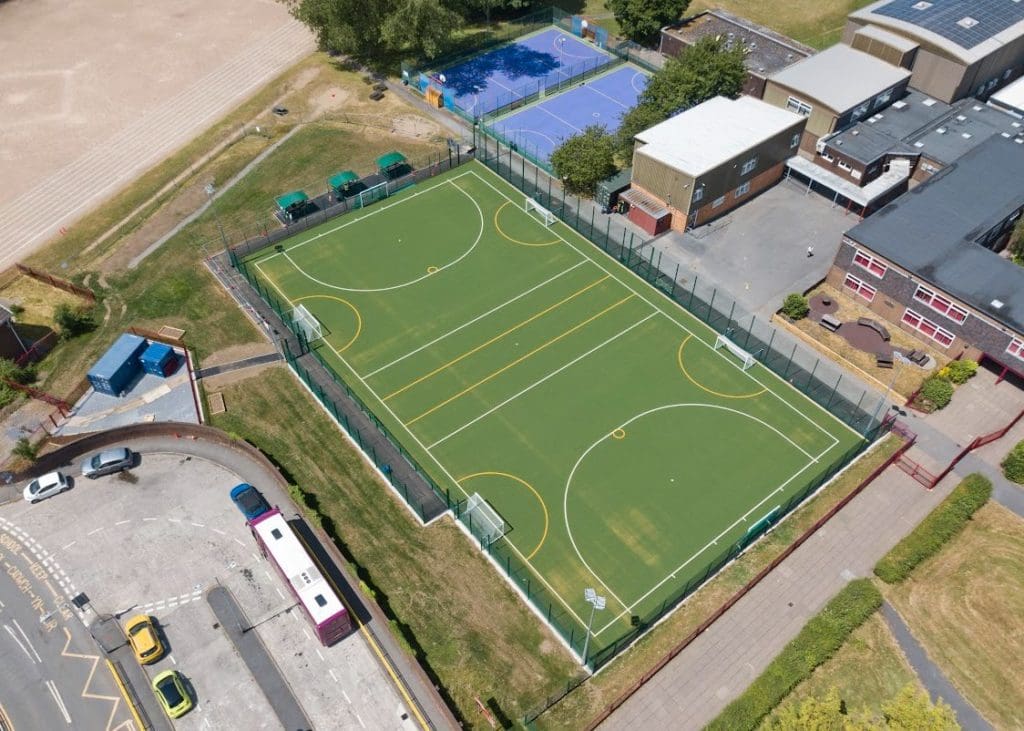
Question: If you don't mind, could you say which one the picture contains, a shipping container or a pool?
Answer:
shipping container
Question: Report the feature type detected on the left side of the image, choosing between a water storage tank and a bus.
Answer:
bus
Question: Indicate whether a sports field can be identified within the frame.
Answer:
Yes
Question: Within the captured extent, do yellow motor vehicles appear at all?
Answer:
Yes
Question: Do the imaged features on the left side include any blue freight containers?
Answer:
Yes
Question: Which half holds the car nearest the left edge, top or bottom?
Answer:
bottom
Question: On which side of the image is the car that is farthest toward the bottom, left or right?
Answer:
left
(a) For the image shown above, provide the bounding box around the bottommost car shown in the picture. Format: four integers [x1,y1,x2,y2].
[152,666,192,721]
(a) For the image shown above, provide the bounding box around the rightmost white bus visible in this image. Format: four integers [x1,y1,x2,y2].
[245,507,351,645]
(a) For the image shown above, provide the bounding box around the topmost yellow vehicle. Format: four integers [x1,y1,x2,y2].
[123,610,162,662]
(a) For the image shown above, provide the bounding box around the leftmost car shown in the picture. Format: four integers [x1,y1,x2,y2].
[20,467,71,503]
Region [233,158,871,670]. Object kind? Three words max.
sports field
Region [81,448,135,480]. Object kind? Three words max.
car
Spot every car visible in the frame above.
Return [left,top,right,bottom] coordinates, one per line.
[152,666,192,721]
[81,448,135,480]
[123,610,162,662]
[20,467,71,503]
[232,483,269,524]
